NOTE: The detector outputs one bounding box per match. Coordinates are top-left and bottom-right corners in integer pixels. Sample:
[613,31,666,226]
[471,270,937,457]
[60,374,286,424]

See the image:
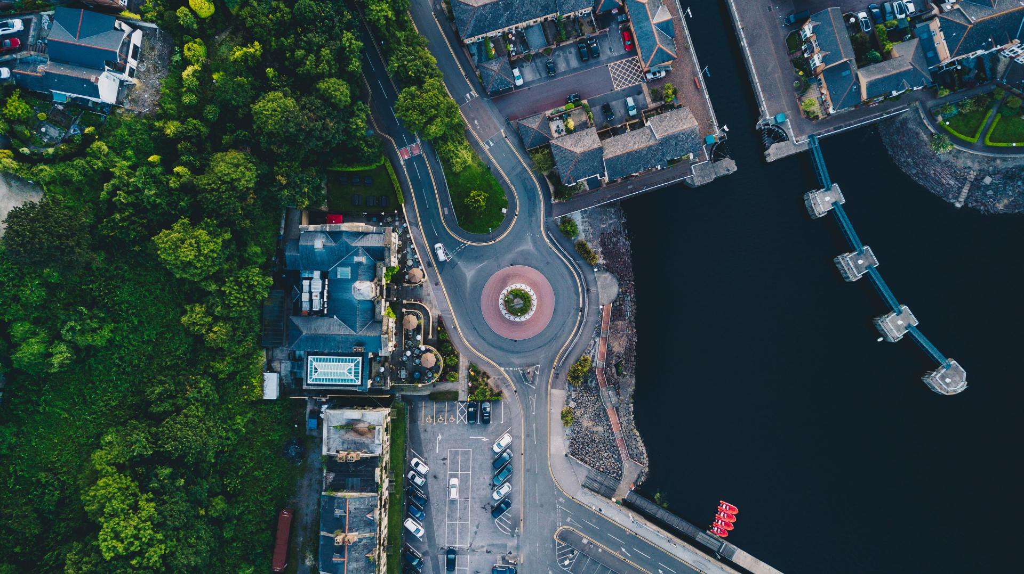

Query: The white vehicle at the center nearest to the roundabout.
[434,241,447,263]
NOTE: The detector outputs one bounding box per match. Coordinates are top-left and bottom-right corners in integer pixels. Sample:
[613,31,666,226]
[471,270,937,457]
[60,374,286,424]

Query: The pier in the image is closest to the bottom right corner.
[719,535,787,574]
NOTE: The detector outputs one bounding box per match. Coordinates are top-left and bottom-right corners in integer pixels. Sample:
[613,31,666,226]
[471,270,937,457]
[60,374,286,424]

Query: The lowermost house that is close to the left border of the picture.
[13,60,115,103]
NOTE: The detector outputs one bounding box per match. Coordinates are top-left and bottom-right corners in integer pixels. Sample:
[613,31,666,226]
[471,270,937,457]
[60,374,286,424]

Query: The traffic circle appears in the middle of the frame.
[480,265,555,340]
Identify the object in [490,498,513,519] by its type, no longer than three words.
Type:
car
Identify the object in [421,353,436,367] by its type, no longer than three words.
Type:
umbrella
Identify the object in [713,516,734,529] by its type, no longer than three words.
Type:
boat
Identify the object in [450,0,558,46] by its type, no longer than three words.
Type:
house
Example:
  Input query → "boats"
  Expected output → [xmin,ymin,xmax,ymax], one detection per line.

[718,500,739,514]
[716,508,736,521]
[713,516,734,529]
[710,524,729,536]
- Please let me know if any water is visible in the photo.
Yes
